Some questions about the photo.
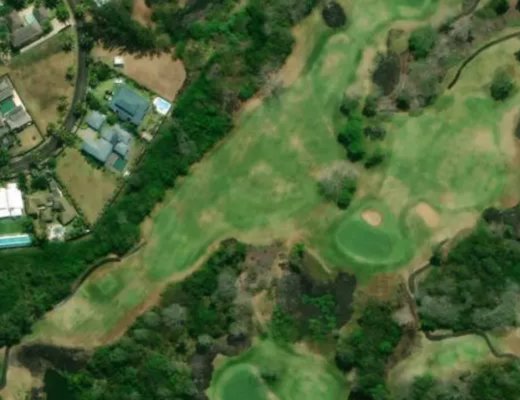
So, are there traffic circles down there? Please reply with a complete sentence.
No, I find no traffic circle anywhere in the image.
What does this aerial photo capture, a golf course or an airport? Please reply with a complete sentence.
The picture captures a golf course.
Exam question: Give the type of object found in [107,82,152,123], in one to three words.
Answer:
house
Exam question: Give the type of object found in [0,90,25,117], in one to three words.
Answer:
swimming pool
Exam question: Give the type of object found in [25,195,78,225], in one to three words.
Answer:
house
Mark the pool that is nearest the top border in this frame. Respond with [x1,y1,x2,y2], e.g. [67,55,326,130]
[19,7,38,25]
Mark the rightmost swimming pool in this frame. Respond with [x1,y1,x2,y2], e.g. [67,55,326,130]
[154,96,172,115]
